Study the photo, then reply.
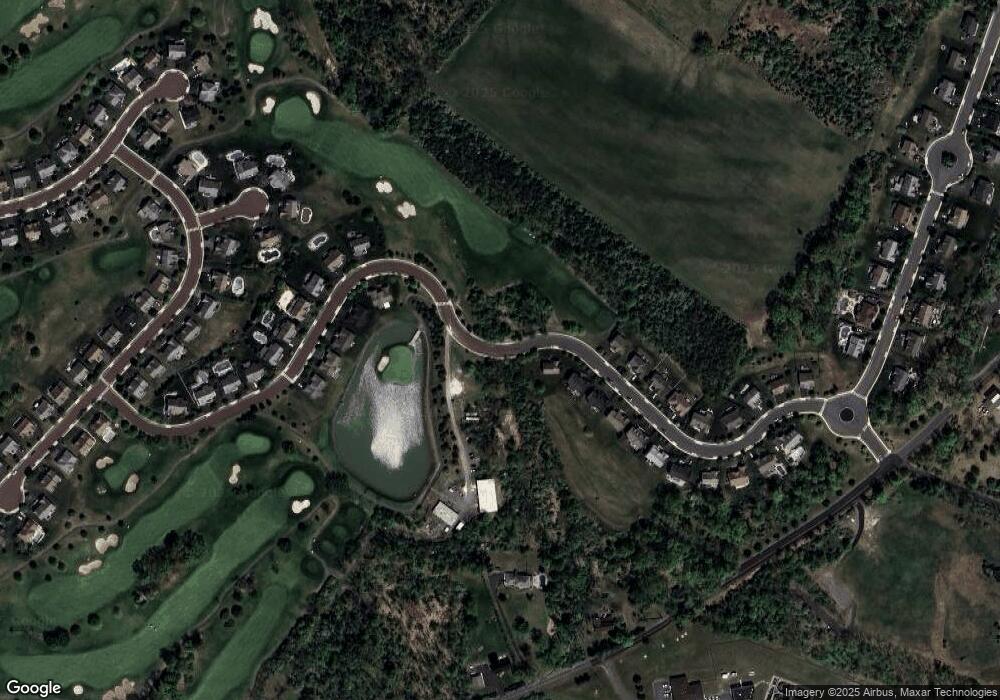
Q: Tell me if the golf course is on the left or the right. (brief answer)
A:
left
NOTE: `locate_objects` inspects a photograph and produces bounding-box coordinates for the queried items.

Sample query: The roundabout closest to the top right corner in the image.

[926,136,973,183]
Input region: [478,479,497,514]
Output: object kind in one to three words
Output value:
barn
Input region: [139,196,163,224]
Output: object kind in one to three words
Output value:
house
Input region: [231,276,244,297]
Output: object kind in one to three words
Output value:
swimming pool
